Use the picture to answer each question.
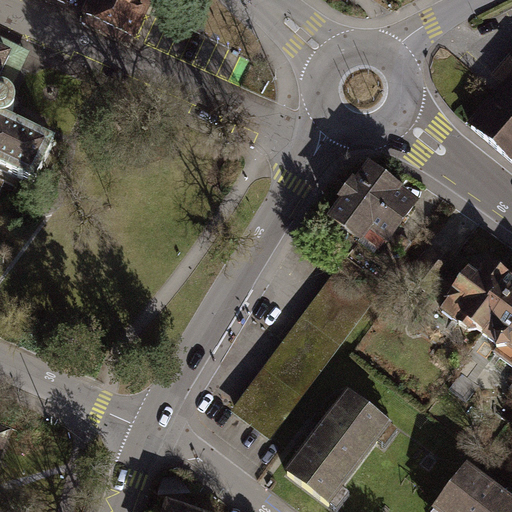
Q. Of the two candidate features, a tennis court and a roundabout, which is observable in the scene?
roundabout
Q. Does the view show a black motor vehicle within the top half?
Yes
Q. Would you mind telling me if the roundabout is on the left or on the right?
right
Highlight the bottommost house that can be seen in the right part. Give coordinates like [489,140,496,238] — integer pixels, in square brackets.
[431,460,512,512]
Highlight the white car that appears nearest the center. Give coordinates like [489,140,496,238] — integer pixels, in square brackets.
[265,306,282,326]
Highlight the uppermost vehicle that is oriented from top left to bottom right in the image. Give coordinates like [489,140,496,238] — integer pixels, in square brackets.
[196,107,218,124]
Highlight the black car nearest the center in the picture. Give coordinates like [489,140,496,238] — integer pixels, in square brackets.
[254,300,272,322]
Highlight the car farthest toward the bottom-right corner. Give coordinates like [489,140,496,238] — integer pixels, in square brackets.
[260,443,278,465]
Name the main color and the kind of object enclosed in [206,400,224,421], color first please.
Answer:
black car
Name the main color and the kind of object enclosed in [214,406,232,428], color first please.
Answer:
black car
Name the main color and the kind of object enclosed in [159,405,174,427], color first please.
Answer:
white car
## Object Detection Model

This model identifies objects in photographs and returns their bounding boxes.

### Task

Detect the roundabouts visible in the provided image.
[302,28,425,150]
